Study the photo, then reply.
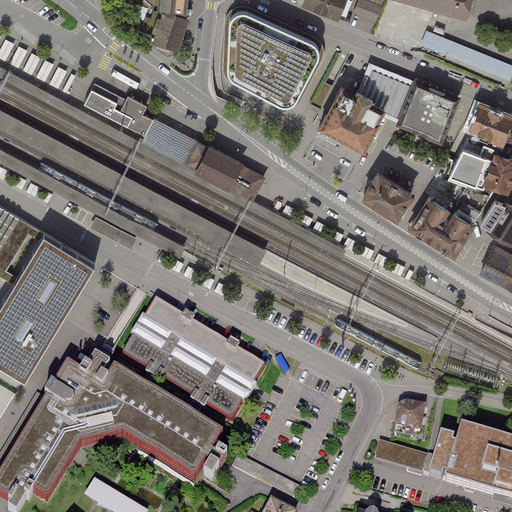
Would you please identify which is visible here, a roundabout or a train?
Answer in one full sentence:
Looking from above, you can make out a train.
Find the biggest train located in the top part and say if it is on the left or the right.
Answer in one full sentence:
It is on the left.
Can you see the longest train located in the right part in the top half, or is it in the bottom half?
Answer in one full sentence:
The longest train located in the right part is in the bottom half of the image.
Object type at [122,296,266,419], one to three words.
building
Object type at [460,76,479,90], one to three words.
vehicle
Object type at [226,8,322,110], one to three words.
building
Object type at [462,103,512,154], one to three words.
house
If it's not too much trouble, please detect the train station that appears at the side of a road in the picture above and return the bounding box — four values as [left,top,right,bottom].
[0,66,512,346]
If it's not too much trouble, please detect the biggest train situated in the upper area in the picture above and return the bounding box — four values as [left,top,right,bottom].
[40,166,158,230]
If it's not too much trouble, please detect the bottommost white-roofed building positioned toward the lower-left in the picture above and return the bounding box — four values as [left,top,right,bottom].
[85,478,154,512]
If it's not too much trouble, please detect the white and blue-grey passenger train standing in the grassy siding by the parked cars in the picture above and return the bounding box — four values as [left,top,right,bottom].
[335,320,420,367]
